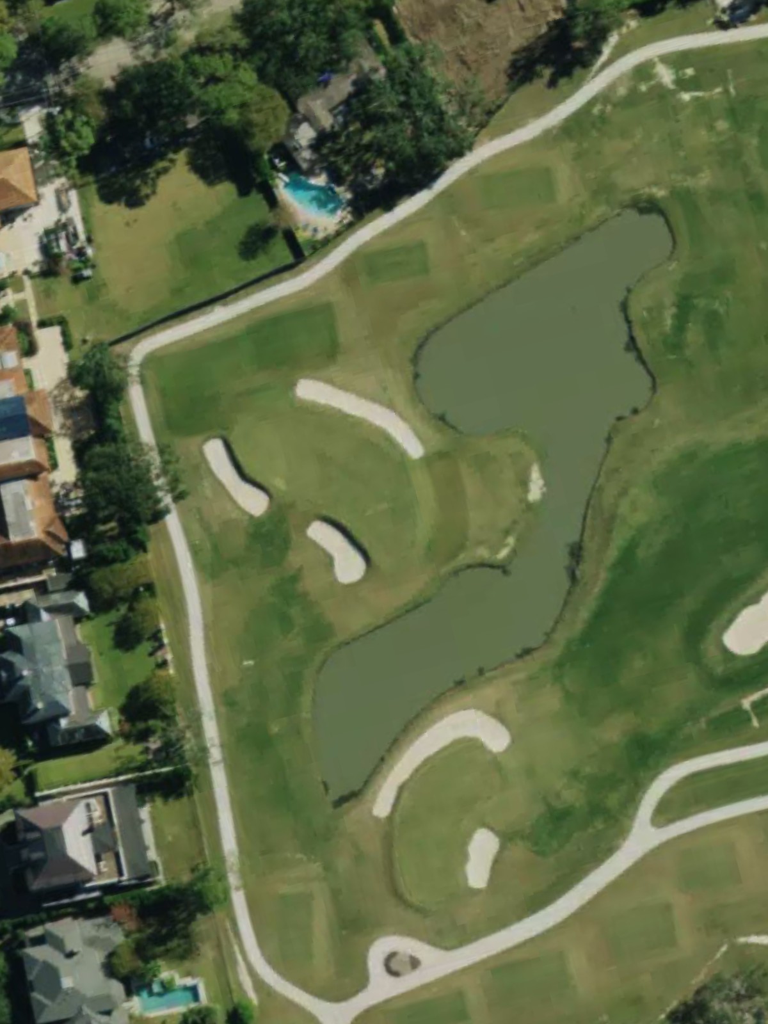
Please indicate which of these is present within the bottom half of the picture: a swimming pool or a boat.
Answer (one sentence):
It is a swimming pool that can be seen within the bottom half of the picture.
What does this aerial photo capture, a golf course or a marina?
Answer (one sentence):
The area seen from above is a golf course.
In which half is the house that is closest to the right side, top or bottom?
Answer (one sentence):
The top half of the photo is where the house that is closest to the right side is.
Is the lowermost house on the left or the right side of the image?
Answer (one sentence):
The lowermost house sits on the left side.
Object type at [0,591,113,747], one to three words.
house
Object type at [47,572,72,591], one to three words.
shed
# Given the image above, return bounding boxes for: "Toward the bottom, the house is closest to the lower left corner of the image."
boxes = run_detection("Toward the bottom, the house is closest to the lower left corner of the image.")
[23,913,132,1024]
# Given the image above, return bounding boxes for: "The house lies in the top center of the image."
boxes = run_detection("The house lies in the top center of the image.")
[286,37,384,173]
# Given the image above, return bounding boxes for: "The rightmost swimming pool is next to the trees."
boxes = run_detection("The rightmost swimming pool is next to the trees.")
[284,172,344,218]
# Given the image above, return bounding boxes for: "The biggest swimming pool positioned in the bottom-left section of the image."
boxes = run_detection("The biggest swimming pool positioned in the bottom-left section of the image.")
[138,982,201,1015]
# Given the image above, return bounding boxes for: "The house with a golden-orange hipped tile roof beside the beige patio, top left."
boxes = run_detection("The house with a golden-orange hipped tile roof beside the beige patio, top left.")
[0,147,38,209]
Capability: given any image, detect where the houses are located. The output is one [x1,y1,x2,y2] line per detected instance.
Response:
[0,147,38,209]
[286,37,384,173]
[0,326,68,571]
[23,913,132,1024]
[14,783,150,890]
[0,591,113,747]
